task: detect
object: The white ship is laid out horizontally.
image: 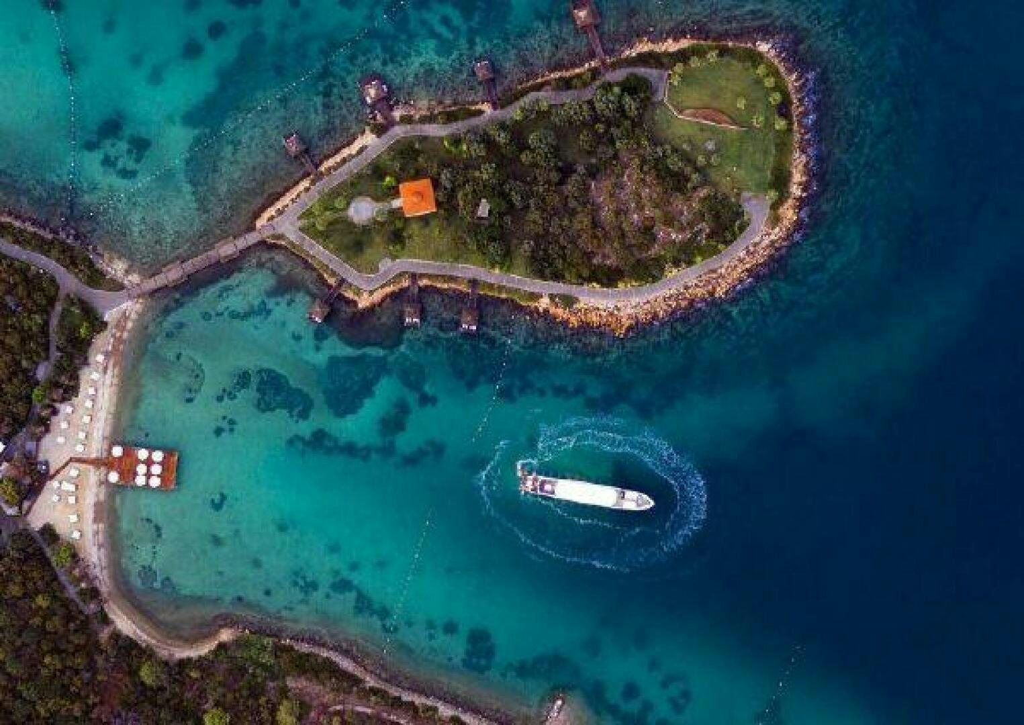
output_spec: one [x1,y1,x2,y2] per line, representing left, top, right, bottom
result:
[517,453,655,511]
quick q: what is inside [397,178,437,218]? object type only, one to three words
building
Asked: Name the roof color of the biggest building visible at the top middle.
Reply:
orange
